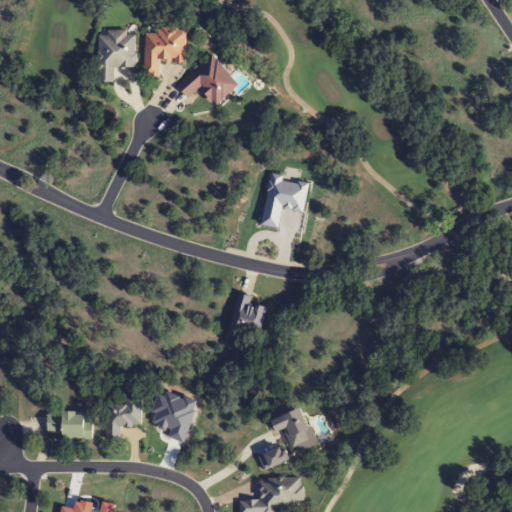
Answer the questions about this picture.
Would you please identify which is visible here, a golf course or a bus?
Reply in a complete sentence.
The image shows a golf course.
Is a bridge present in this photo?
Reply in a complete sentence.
No, there's no bridge here.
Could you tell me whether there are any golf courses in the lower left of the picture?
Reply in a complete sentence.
No, in the lower left of the picture there is no golf course.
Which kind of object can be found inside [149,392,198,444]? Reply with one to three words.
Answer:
house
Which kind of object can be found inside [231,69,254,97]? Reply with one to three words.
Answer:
swimming pool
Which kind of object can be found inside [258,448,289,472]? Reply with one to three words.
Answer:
house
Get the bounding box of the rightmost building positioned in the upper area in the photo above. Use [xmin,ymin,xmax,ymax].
[260,170,312,226]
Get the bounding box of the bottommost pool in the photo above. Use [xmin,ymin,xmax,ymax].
[304,412,334,437]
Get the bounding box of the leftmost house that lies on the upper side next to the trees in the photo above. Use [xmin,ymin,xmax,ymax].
[98,28,138,82]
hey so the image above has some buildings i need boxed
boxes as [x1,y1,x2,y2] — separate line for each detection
[144,25,188,78]
[235,477,306,512]
[270,407,318,452]
[260,170,312,226]
[176,53,238,104]
[149,392,198,444]
[258,448,289,472]
[110,398,142,438]
[46,410,93,440]
[98,28,138,82]
[60,500,116,512]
